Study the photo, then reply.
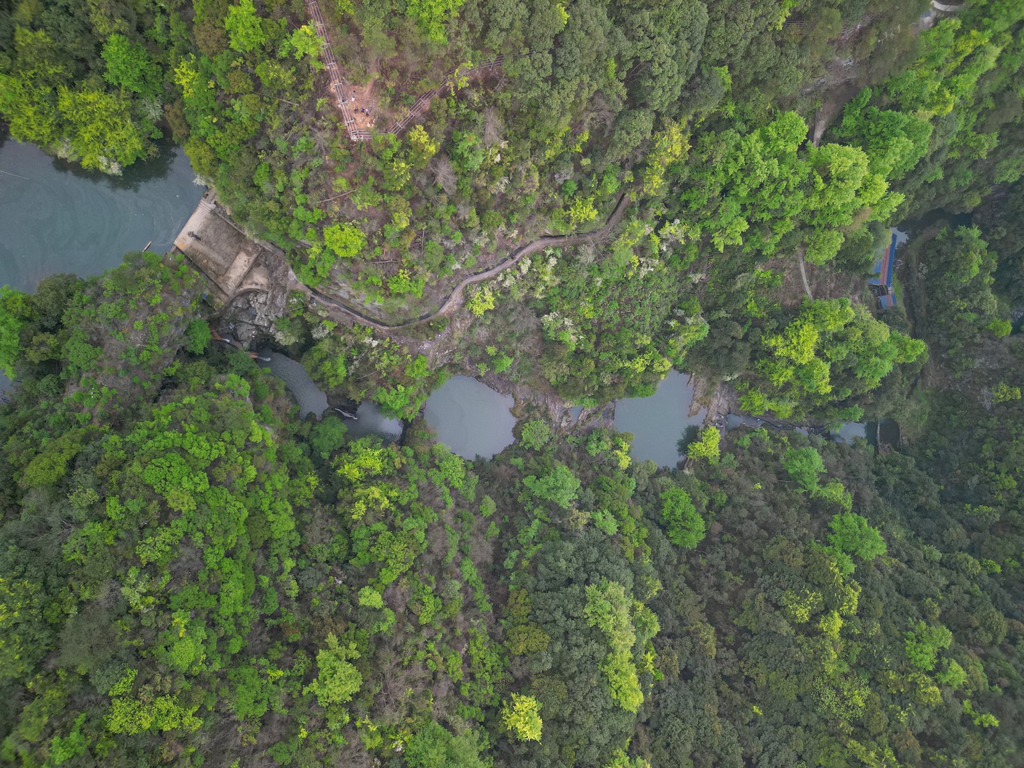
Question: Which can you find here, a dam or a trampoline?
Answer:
dam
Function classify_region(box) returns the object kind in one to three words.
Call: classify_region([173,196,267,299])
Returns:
dam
